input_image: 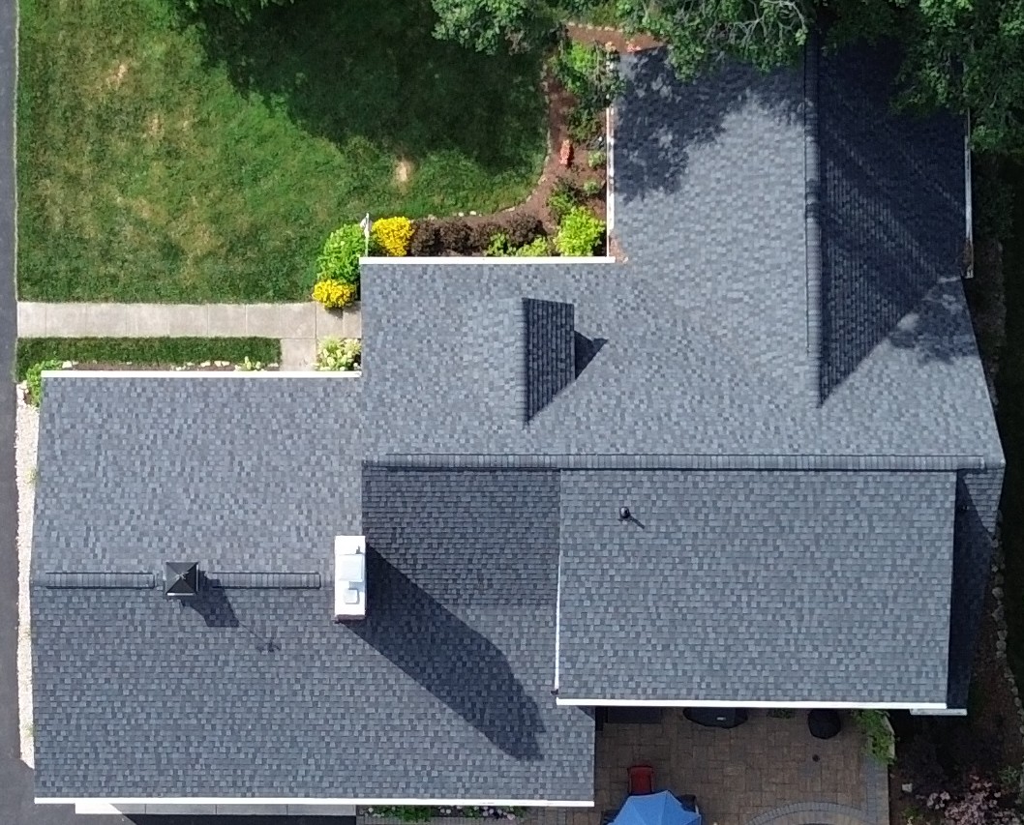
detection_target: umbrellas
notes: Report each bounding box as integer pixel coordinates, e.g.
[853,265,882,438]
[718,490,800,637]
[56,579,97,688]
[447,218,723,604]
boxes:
[614,789,701,825]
